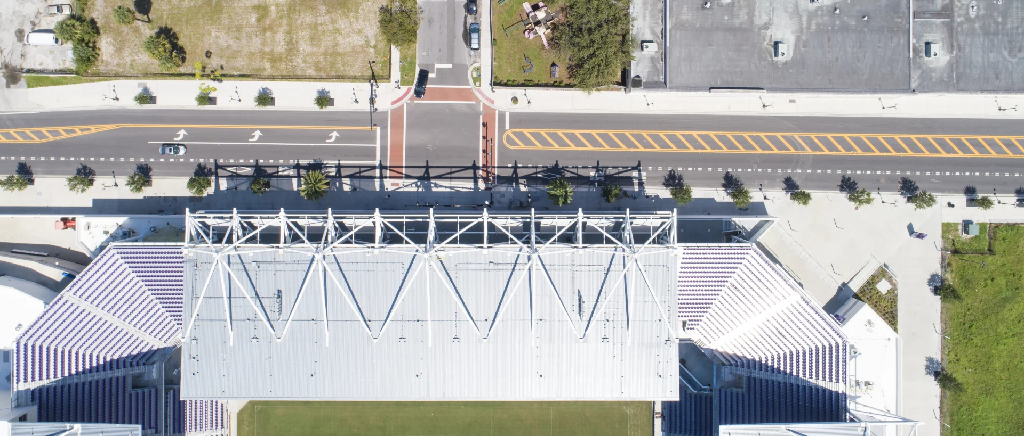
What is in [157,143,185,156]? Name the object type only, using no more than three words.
vehicle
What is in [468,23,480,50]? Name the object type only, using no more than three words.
vehicle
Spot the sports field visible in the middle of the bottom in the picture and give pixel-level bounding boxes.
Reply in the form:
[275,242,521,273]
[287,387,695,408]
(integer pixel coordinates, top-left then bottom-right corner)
[237,400,652,436]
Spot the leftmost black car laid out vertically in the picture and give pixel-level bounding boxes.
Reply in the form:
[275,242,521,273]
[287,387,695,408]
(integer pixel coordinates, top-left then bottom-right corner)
[413,69,428,98]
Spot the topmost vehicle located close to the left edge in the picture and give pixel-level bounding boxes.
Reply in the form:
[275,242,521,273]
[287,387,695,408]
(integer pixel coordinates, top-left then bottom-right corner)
[43,2,71,14]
